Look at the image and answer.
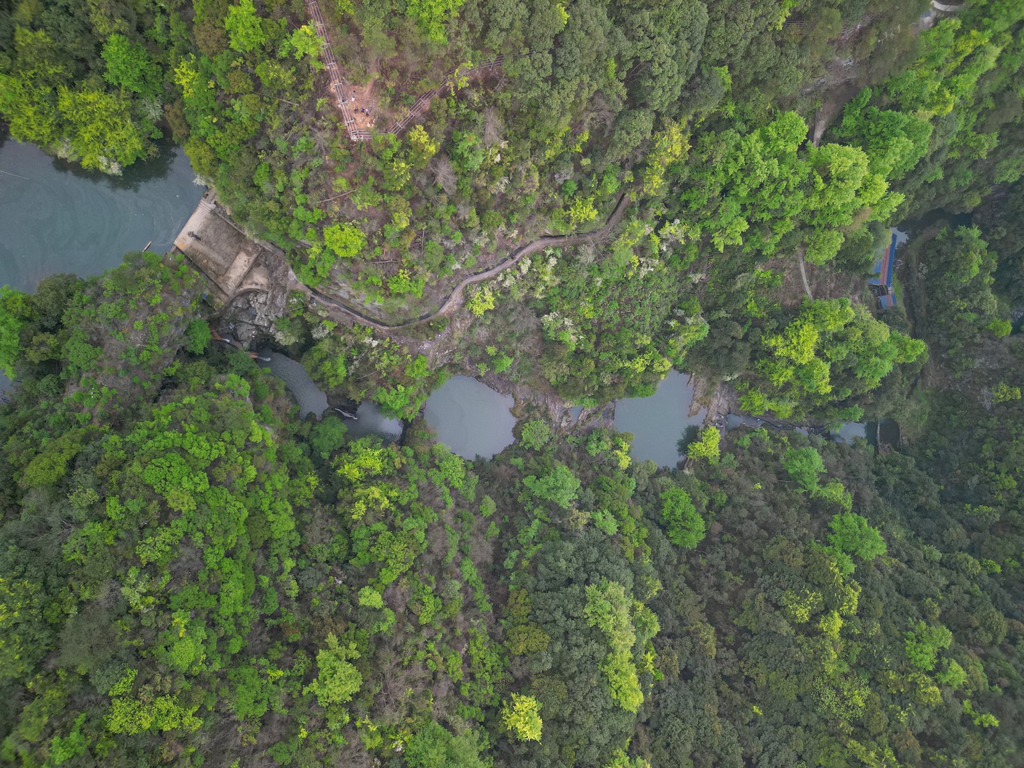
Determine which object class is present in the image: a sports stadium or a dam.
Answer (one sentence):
The image shows a dam.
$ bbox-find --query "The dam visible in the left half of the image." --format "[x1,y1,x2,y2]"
[173,196,267,299]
